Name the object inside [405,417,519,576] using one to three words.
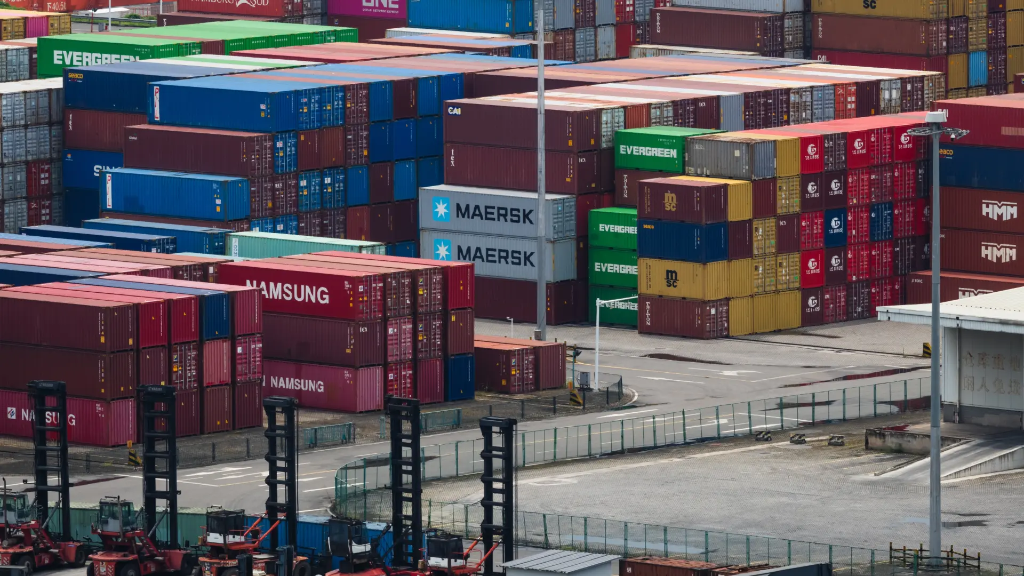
truck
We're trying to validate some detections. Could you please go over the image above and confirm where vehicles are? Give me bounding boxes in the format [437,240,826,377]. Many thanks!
[308,396,421,576]
[78,384,196,576]
[185,396,316,576]
[0,379,94,567]
[405,417,519,576]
